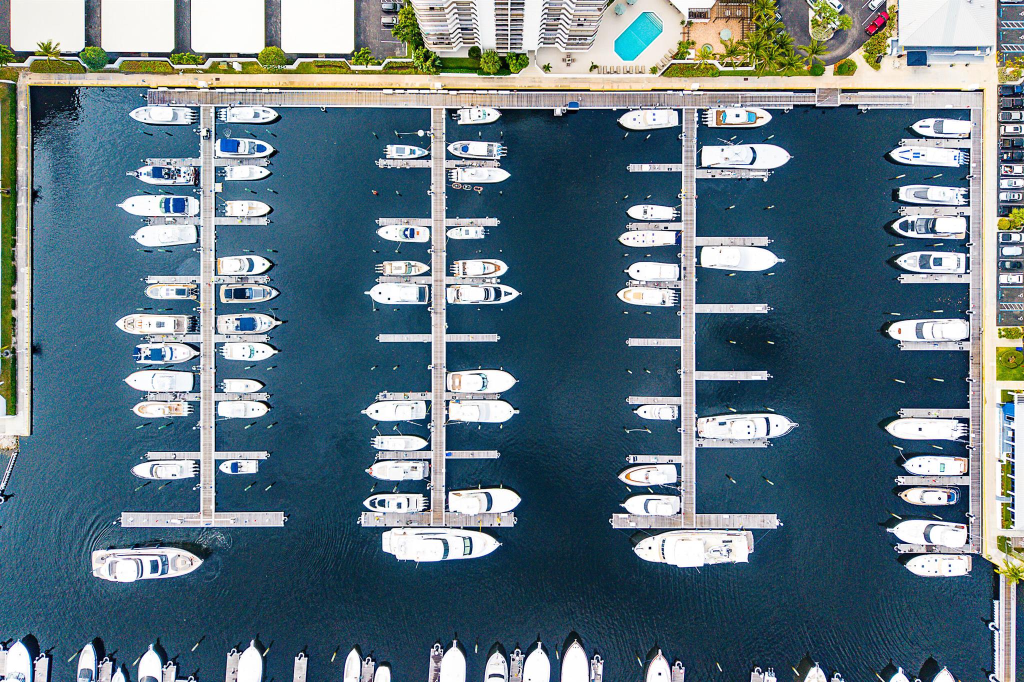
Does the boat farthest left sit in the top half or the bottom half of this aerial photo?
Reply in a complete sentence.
The bottom half of the photo is where the boat farthest left is.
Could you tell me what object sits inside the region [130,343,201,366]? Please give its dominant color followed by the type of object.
white boat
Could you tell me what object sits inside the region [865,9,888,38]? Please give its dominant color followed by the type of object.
red truck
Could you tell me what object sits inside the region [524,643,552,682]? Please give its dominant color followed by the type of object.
white boat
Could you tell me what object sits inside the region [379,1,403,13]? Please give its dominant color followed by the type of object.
gray vehicle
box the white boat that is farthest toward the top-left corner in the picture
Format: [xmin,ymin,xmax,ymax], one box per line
[129,106,200,124]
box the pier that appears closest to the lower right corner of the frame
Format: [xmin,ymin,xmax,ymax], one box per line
[995,572,1016,682]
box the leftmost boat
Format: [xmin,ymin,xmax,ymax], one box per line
[4,638,35,682]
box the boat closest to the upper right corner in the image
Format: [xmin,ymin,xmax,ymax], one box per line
[909,115,971,139]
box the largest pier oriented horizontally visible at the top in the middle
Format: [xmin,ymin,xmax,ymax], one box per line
[144,90,869,112]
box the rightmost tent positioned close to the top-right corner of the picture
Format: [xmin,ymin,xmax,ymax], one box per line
[902,52,926,69]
